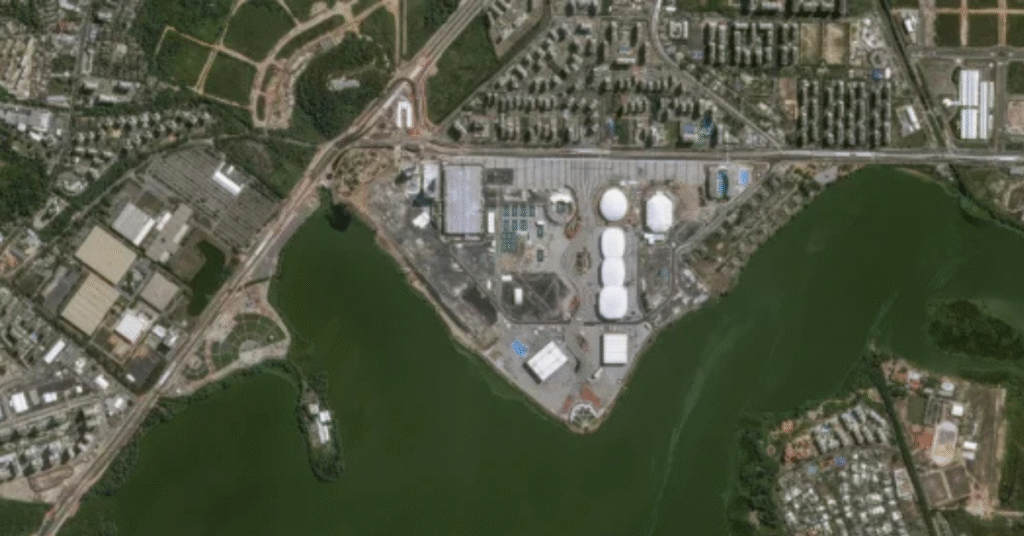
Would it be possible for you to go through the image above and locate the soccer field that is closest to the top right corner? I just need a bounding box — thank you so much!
[826,24,846,64]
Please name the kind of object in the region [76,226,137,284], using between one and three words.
building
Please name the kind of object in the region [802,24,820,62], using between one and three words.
soccer field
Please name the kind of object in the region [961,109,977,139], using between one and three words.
building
